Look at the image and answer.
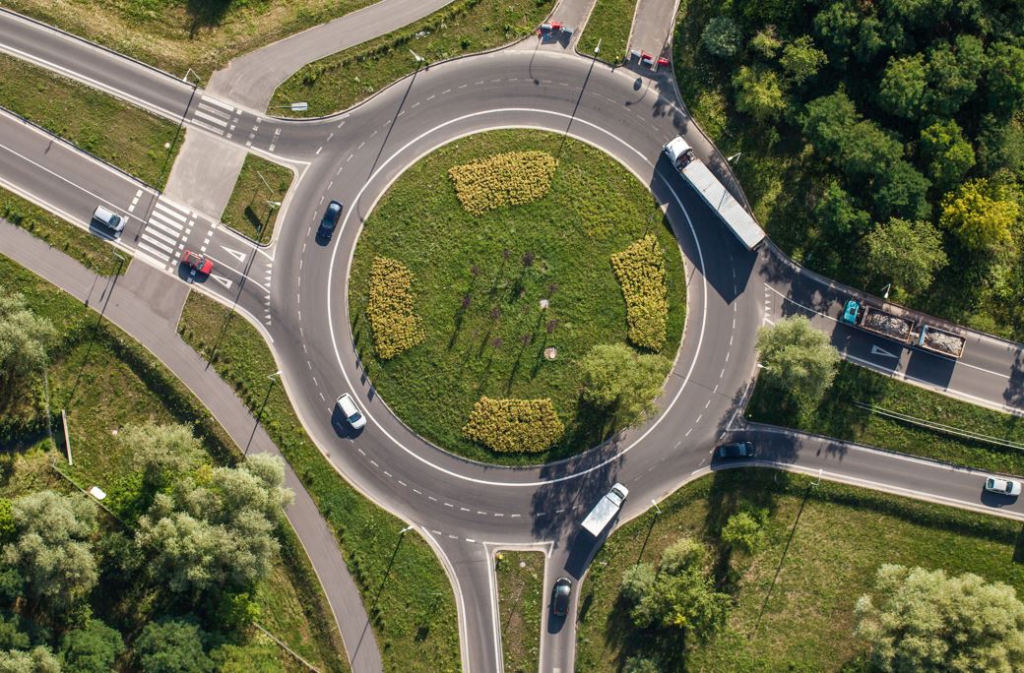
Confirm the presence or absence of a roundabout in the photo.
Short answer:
Yes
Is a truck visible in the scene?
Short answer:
Yes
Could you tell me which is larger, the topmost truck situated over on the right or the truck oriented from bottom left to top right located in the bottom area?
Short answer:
the topmost truck situated over on the right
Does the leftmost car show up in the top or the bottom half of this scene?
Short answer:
top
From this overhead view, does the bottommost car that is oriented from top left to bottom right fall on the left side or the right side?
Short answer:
left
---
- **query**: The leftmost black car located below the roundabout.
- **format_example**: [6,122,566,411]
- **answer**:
[554,579,571,615]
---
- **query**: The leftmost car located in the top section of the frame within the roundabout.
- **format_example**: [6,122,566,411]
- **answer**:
[319,200,343,241]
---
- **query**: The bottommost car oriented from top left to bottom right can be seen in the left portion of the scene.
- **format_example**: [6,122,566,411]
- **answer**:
[335,392,366,428]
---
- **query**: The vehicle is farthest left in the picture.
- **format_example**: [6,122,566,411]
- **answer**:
[91,205,126,231]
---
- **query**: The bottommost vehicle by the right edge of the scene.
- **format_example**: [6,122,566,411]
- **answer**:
[986,477,1023,495]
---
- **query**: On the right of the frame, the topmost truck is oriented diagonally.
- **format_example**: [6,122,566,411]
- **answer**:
[662,135,766,250]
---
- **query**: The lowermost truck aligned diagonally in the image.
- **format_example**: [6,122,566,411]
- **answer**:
[581,482,629,537]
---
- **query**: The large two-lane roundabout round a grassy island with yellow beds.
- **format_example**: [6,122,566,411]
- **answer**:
[270,51,763,544]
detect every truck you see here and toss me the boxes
[581,482,629,537]
[662,135,766,250]
[840,300,967,358]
